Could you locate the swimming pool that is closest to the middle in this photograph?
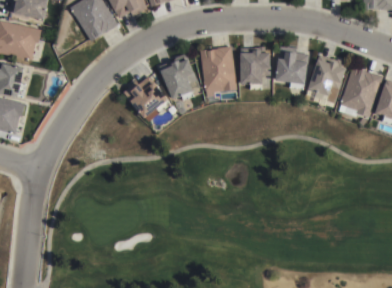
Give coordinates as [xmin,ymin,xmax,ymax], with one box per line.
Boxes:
[152,112,173,128]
